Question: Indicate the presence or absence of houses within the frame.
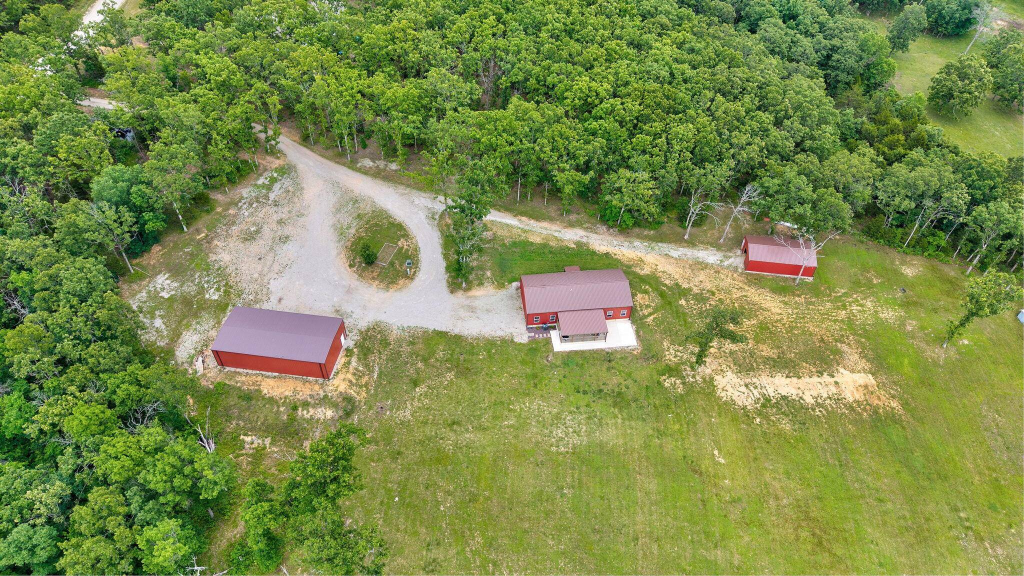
Yes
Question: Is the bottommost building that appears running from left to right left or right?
left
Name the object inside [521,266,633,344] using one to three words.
house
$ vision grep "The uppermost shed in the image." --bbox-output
[743,236,818,278]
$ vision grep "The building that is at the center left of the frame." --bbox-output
[210,307,348,379]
